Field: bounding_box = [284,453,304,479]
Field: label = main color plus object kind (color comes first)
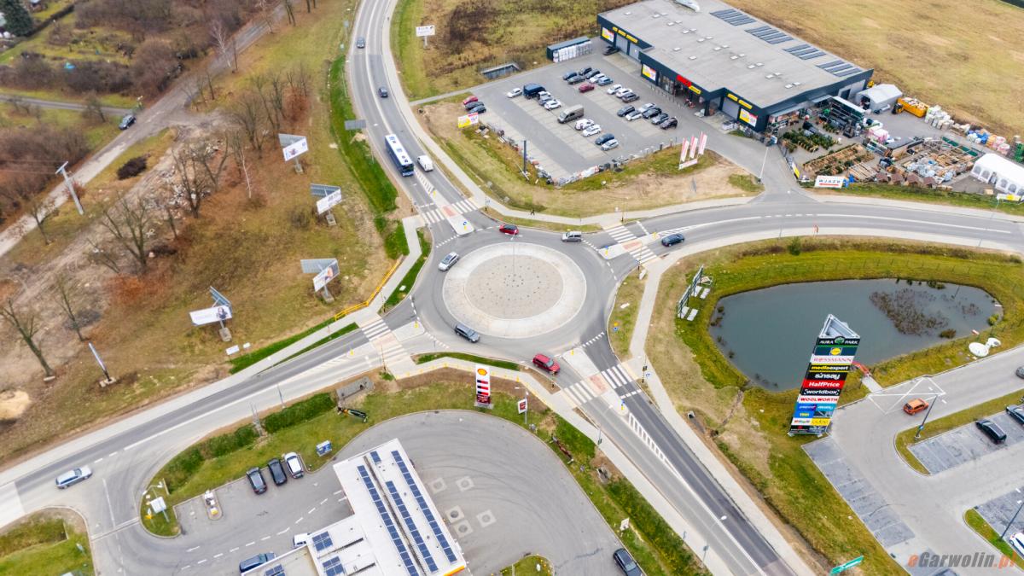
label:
white car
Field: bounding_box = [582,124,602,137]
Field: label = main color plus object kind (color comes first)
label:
white vehicle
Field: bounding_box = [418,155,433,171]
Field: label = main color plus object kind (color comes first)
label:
white vehicle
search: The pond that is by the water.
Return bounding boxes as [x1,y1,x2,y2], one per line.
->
[630,227,1024,576]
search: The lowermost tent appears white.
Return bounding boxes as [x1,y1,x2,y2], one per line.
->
[972,155,1024,202]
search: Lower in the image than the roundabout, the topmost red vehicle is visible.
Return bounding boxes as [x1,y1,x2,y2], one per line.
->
[530,355,560,374]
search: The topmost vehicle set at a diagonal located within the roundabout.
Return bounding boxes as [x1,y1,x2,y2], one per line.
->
[436,252,461,270]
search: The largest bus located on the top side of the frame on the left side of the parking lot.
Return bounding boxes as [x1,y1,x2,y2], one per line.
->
[386,136,414,176]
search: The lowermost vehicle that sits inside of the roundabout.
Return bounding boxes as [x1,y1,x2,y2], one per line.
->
[452,322,481,342]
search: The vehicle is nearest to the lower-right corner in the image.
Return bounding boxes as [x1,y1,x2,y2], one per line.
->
[1002,528,1024,560]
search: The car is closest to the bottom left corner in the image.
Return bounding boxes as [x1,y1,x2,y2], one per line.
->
[53,467,93,490]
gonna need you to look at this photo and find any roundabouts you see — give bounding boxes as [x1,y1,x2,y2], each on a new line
[417,229,613,354]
